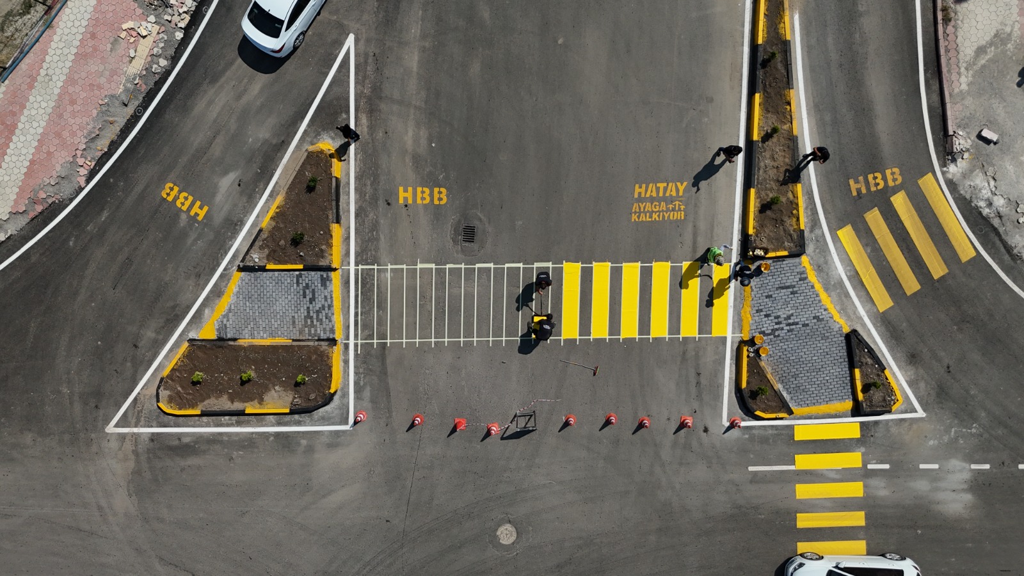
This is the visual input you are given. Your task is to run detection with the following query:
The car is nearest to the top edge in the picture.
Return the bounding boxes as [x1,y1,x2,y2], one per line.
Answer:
[240,0,329,58]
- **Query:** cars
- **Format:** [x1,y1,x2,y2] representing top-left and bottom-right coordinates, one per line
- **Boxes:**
[240,0,329,58]
[783,552,922,576]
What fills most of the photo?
paved ground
